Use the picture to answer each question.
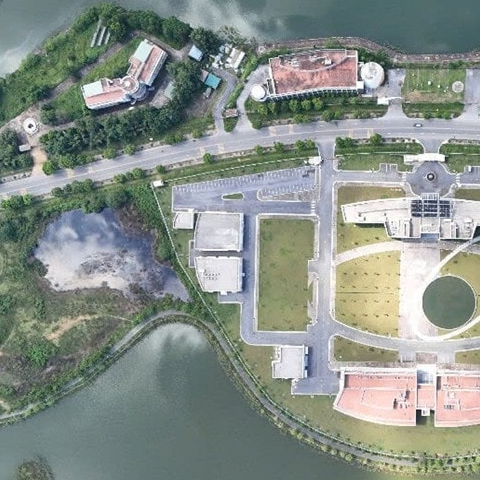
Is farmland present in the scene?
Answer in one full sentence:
No, there's no farmland in this view.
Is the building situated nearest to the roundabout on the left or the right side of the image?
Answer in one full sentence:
It is on the right.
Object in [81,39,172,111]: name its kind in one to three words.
building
